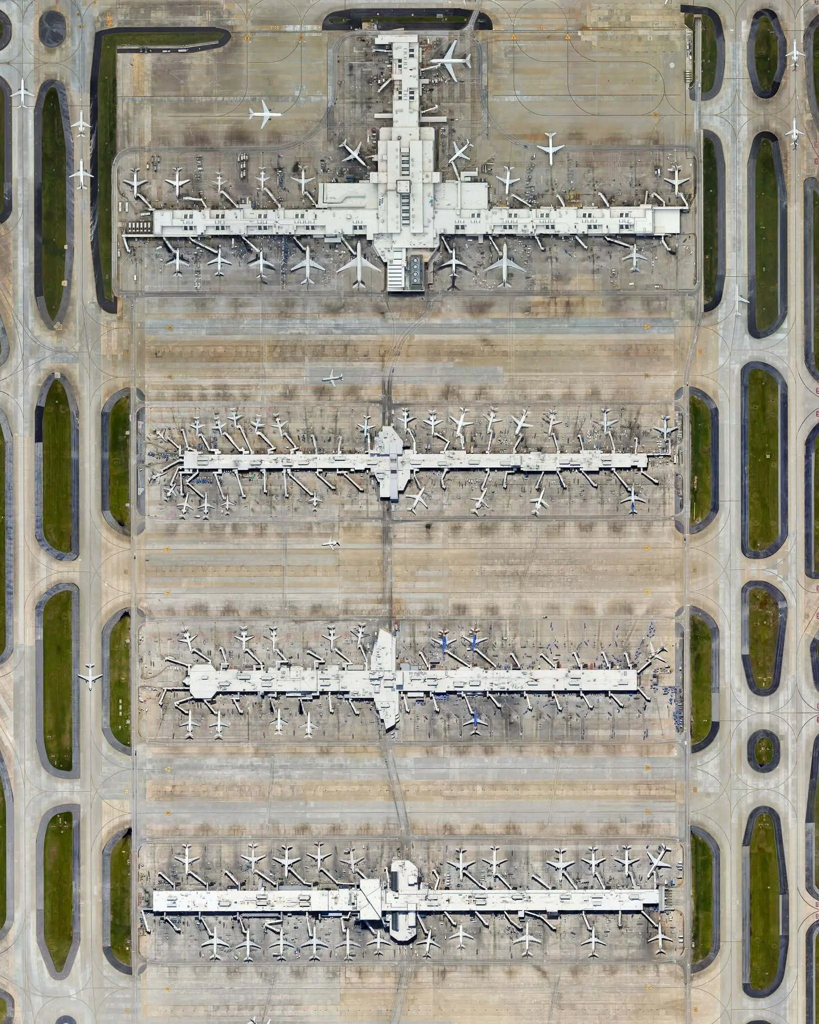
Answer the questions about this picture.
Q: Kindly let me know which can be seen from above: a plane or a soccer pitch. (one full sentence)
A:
Of the two, only a plane appears.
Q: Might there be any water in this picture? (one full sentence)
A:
No, there's no water in this view.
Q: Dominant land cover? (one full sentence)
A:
The largest share of the image is taken up by paved ground.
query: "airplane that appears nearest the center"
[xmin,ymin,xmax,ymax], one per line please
[405,486,427,513]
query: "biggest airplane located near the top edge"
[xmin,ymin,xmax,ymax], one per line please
[429,39,471,82]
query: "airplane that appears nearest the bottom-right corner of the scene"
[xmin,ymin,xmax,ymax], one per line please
[648,924,674,955]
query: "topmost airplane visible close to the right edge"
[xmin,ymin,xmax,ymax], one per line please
[786,40,805,66]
